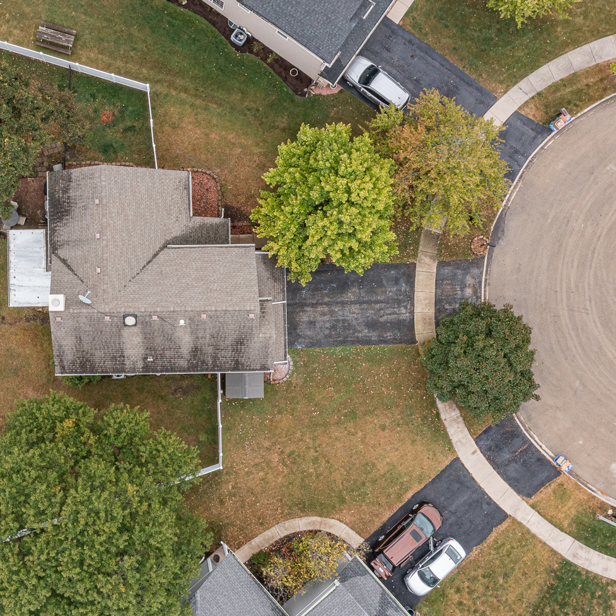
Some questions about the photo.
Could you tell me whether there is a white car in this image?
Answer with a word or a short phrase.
Yes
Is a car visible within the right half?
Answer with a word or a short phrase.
Yes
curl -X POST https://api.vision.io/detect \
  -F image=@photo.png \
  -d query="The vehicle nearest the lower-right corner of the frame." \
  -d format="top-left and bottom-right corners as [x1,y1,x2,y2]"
[404,538,468,597]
